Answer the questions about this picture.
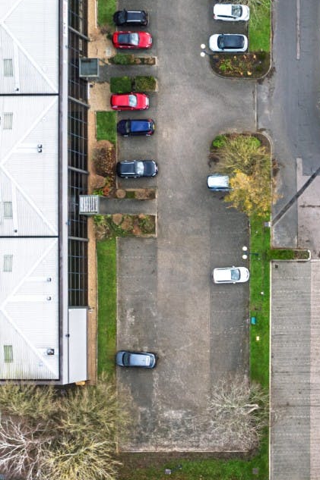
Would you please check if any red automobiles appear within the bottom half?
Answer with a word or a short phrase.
No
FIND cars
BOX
[210,32,249,51]
[118,350,159,368]
[117,159,159,178]
[112,30,153,49]
[119,118,157,136]
[212,4,250,21]
[213,267,250,283]
[113,8,149,27]
[111,91,151,110]
[209,173,237,190]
